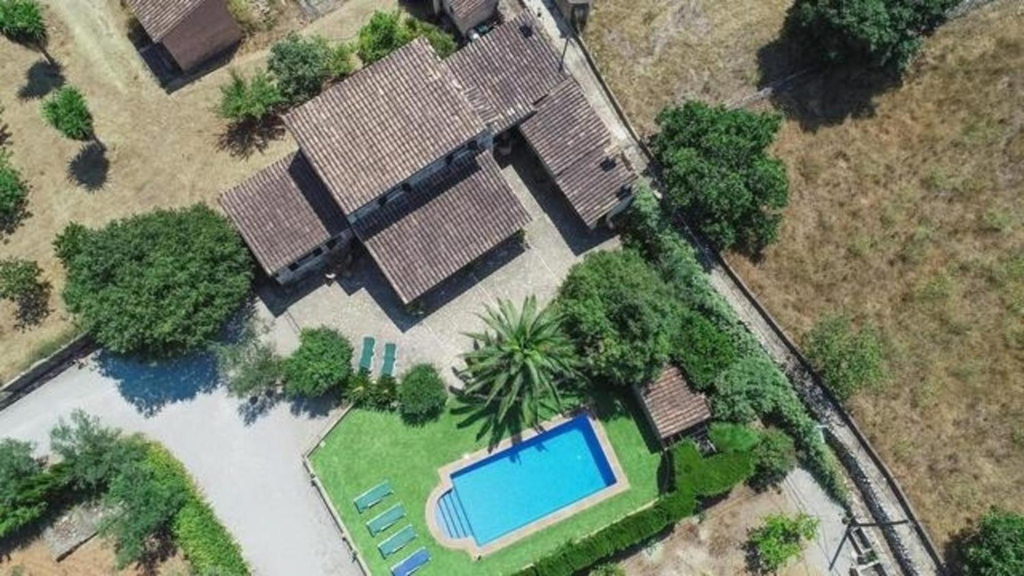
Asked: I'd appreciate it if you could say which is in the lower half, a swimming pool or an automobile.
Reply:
swimming pool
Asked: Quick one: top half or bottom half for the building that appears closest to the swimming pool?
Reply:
bottom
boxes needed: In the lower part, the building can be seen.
[629,354,711,441]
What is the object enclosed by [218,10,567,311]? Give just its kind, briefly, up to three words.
house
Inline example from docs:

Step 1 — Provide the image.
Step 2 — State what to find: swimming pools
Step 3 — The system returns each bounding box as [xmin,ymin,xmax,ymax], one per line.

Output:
[426,399,630,560]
